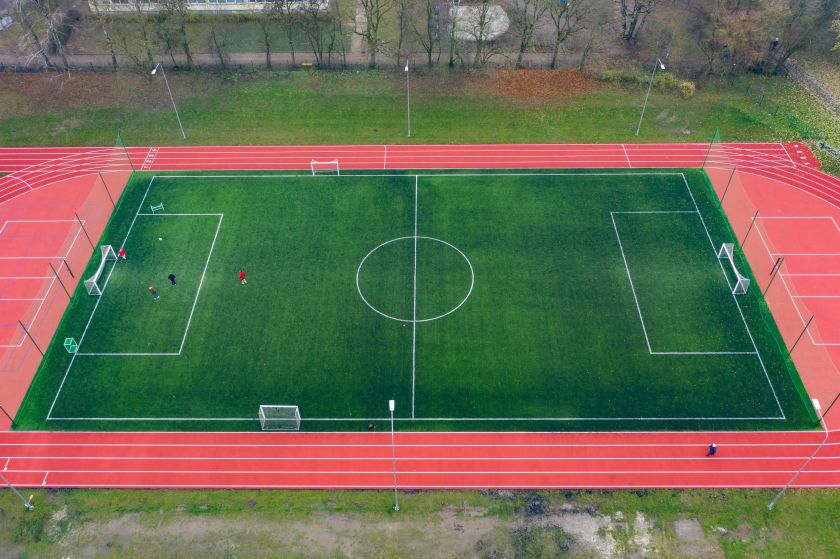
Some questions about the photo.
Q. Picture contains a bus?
No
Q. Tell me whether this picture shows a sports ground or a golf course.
sports ground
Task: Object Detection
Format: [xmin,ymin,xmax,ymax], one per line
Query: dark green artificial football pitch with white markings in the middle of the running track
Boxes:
[9,167,821,432]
